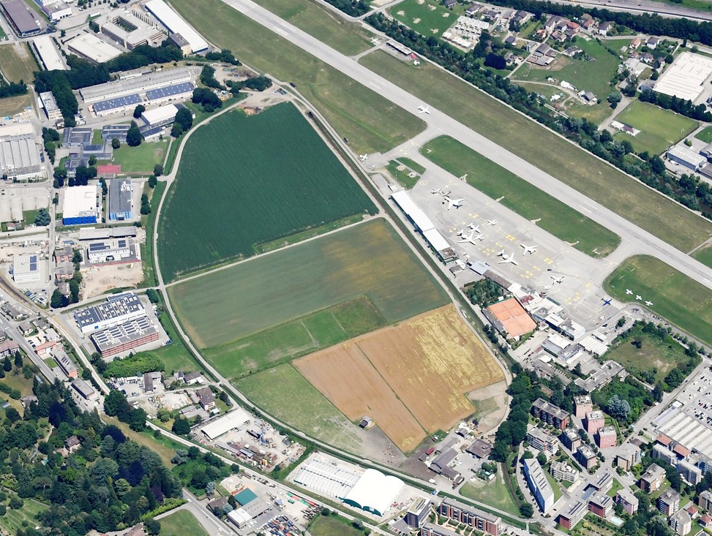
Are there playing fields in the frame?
Yes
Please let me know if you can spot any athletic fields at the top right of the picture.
Yes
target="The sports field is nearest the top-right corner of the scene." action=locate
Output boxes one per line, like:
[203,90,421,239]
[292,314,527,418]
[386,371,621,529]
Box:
[611,99,698,155]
